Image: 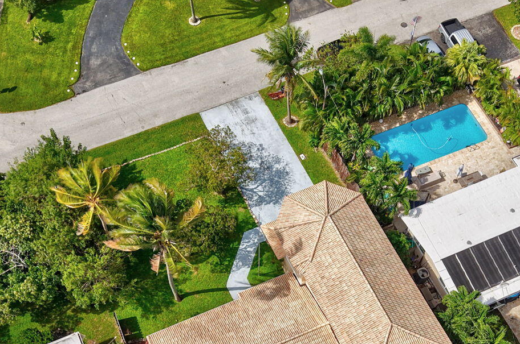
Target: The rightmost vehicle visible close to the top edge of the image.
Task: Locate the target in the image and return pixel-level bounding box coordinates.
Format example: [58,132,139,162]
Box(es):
[439,17,482,54]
